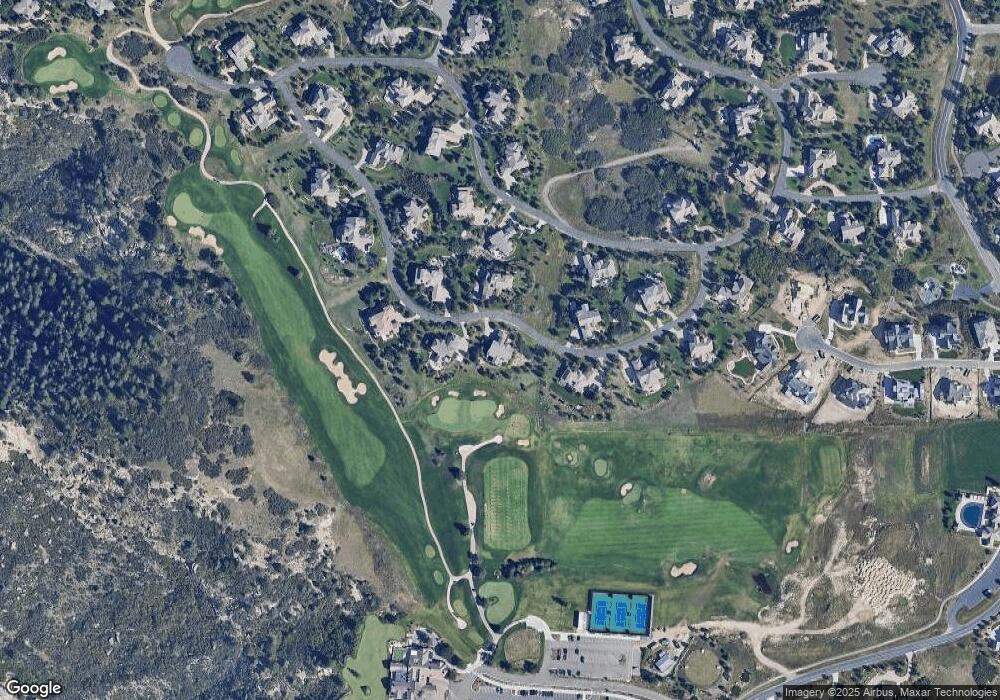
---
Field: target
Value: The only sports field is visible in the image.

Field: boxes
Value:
[945,422,1000,494]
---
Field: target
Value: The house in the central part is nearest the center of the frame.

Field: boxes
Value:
[483,327,519,368]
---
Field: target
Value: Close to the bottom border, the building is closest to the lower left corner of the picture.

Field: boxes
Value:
[389,649,445,700]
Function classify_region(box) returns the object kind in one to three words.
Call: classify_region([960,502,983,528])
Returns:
swimming pool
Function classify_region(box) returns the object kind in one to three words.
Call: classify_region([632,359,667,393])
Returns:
house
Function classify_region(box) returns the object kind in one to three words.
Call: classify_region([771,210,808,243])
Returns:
house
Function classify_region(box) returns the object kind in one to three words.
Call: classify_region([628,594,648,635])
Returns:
tennis court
